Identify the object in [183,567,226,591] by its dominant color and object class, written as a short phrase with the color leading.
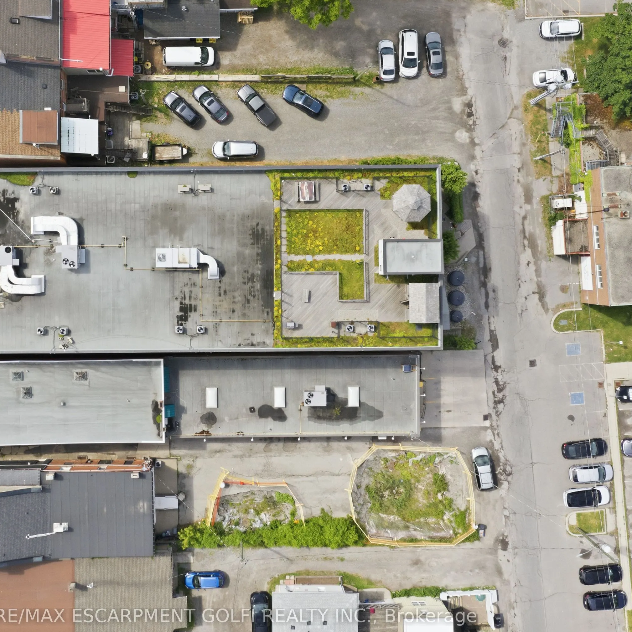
blue car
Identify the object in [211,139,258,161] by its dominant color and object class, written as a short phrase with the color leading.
white car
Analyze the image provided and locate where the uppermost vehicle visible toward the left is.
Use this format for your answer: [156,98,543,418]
[161,45,215,68]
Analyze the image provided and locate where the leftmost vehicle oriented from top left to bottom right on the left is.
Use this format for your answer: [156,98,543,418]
[163,88,203,132]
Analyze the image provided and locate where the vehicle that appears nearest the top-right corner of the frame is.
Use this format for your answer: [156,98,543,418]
[534,16,584,41]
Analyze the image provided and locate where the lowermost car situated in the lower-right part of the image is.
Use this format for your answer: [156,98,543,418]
[580,586,626,611]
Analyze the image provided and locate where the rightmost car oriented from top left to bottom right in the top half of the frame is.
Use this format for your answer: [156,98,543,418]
[281,82,327,121]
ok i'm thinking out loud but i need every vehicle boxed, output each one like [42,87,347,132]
[191,82,233,127]
[530,67,577,88]
[469,443,493,492]
[183,567,226,591]
[281,82,327,121]
[211,139,258,161]
[580,586,626,611]
[562,484,610,507]
[249,590,271,632]
[377,39,397,85]
[235,81,280,132]
[566,460,612,484]
[423,32,445,79]
[397,28,421,79]
[576,560,621,585]
[534,16,584,41]
[558,436,606,458]
[619,433,632,456]
[161,45,215,68]
[163,88,203,132]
